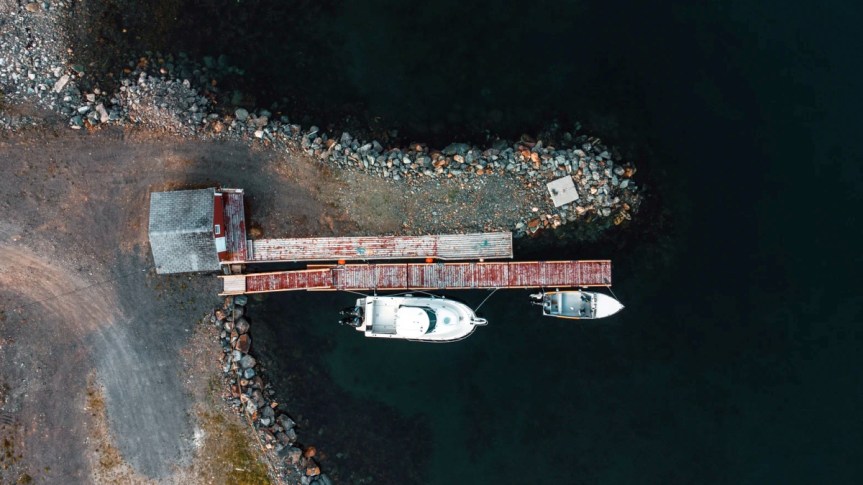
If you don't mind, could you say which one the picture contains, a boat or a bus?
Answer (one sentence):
There is a boat in the scene.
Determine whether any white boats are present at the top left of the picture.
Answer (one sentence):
No, no white boat can be made out at the top left of the picture.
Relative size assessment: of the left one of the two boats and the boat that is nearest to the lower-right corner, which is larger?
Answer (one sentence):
Compared with the boat that is nearest to the lower-right corner, the left one of the two boats is the larger one.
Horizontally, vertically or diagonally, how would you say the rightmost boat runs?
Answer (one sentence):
In this picture, the rightmost boat lies horizontally.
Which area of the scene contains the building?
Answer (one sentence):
The building is located in the left region of the scene.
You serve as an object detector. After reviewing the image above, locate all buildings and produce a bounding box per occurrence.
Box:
[148,189,233,273]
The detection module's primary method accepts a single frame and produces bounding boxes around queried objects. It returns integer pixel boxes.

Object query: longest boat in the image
[336,296,488,343]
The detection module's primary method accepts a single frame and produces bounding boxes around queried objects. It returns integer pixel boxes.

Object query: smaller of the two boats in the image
[526,290,624,319]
